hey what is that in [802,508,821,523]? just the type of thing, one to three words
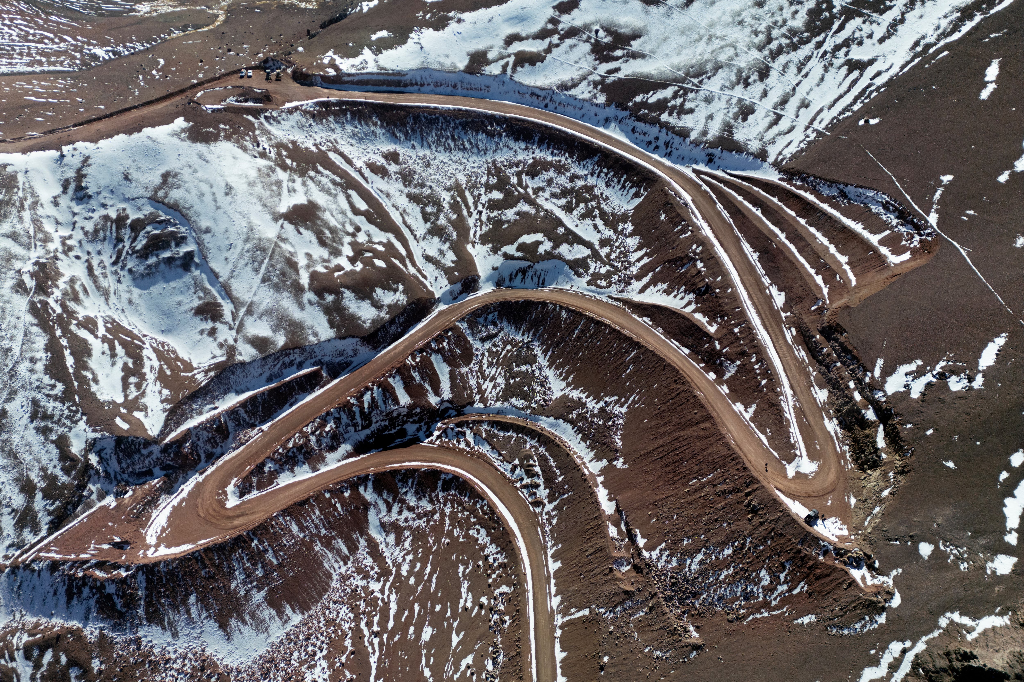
vehicle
